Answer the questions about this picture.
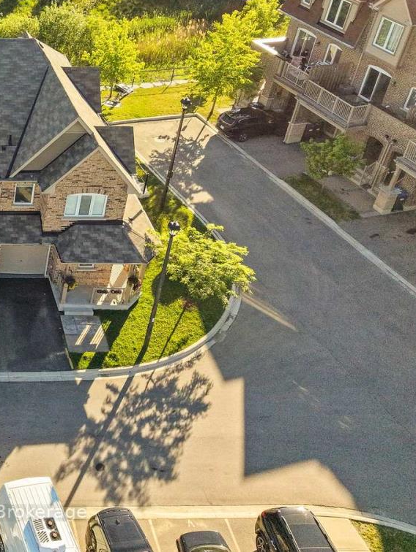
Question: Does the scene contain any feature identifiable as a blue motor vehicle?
No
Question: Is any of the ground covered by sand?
No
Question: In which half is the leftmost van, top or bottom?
bottom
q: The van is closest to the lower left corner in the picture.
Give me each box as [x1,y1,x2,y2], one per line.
[0,474,77,552]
